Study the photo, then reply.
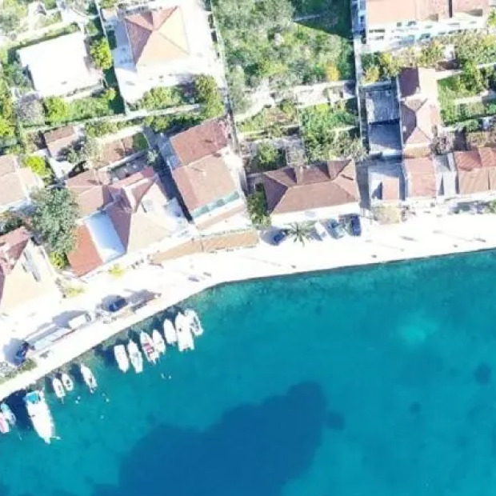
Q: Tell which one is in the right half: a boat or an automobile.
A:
automobile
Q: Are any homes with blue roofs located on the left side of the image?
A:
No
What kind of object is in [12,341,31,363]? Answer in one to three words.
car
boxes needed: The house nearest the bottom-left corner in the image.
[0,226,69,314]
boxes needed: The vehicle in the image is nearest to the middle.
[268,227,289,247]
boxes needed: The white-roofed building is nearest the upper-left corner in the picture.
[19,31,106,105]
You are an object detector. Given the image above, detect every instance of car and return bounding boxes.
[312,220,330,242]
[103,292,127,312]
[268,227,289,247]
[12,341,31,363]
[350,211,361,236]
[328,216,345,241]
